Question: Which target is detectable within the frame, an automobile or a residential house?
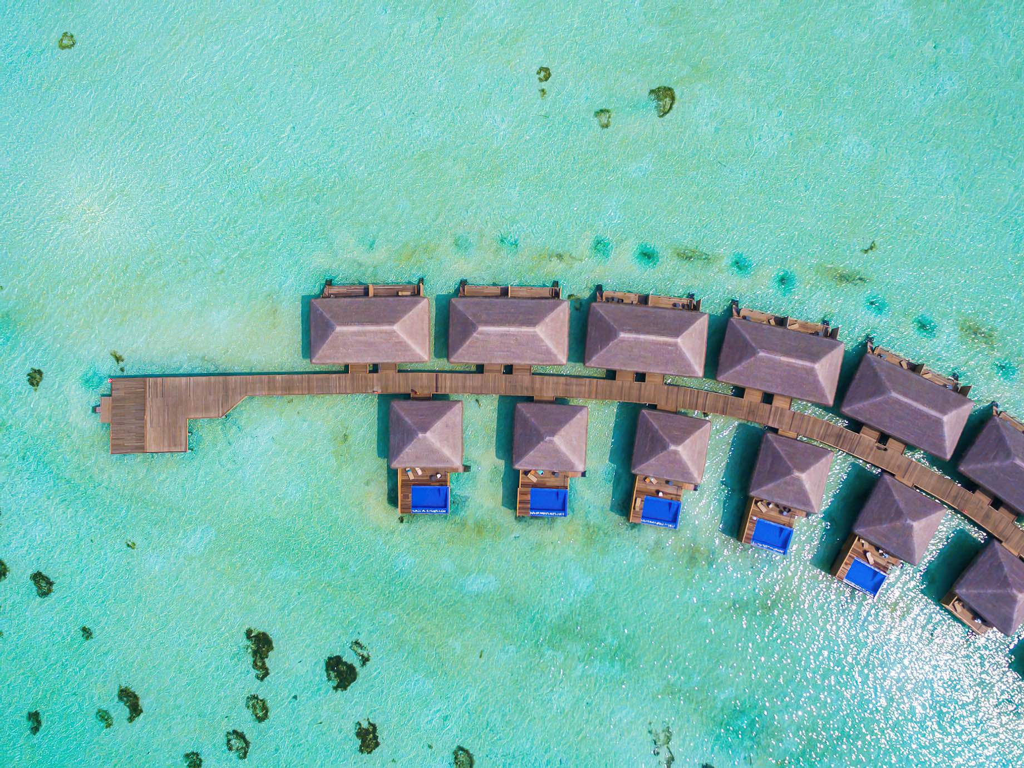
residential house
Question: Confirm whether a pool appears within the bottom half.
Yes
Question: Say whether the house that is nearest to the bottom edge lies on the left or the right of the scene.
right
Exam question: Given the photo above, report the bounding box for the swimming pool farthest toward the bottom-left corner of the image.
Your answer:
[411,485,450,514]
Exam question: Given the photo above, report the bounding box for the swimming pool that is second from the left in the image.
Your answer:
[529,488,568,518]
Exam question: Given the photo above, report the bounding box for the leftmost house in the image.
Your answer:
[311,279,429,364]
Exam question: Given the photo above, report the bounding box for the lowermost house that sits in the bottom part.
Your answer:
[932,540,1024,637]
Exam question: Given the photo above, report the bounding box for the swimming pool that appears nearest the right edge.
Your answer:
[842,556,887,600]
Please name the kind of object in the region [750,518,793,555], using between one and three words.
swimming pool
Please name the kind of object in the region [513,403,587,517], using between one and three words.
house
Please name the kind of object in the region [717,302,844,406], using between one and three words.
house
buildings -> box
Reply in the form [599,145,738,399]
[391,401,472,516]
[932,540,1024,637]
[311,279,429,364]
[449,281,568,365]
[737,433,832,544]
[717,302,844,406]
[840,338,973,460]
[829,475,945,581]
[585,286,708,377]
[627,410,710,522]
[955,400,1024,514]
[513,403,587,517]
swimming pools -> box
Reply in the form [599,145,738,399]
[842,556,887,600]
[750,518,793,555]
[529,488,568,518]
[641,495,681,529]
[411,485,450,514]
